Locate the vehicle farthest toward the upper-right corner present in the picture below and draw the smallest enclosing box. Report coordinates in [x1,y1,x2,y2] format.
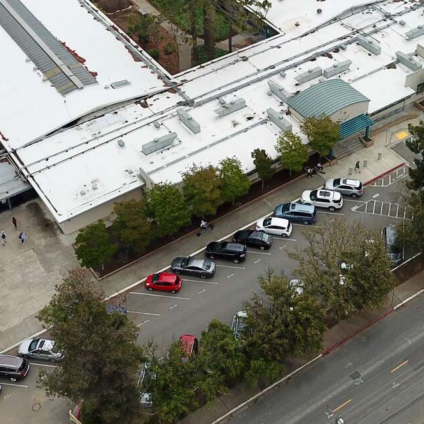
[326,177,365,196]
